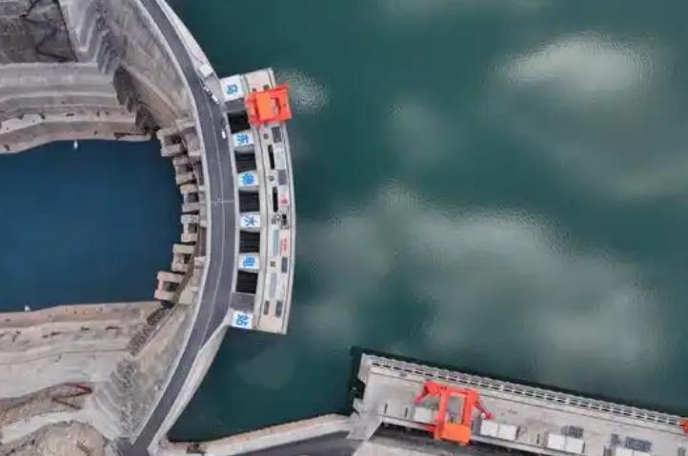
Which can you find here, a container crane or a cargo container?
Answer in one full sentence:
It is a container crane that can be seen here.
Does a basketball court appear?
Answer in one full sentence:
No, the photo shows no basketball court.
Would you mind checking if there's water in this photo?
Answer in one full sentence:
Yes, there's water in this view.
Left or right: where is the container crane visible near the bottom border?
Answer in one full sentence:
The container crane visible near the bottom border is on the right side of the image.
